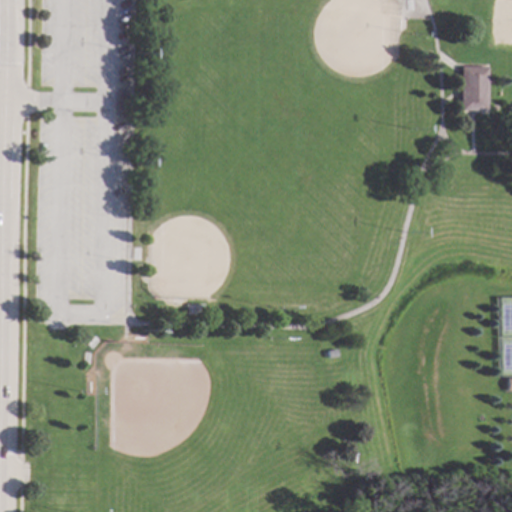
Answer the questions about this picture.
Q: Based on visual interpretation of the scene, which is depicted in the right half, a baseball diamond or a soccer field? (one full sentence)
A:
What appears in the right half is a baseball diamond.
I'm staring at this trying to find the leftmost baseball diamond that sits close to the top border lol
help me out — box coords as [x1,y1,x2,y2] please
[314,0,404,77]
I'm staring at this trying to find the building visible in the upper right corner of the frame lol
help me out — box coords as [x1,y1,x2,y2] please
[462,64,491,112]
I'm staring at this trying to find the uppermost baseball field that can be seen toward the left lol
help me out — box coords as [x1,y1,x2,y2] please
[149,214,230,306]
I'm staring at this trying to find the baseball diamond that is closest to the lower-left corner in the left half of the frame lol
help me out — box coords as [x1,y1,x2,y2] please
[104,352,211,457]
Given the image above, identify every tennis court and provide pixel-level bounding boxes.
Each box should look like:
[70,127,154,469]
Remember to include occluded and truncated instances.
[502,338,512,376]
[502,298,512,336]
